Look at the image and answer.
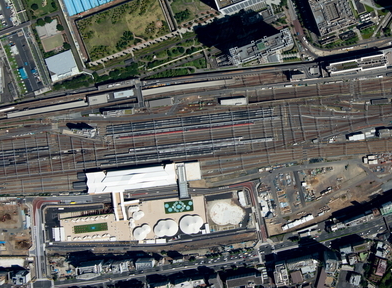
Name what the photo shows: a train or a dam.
train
